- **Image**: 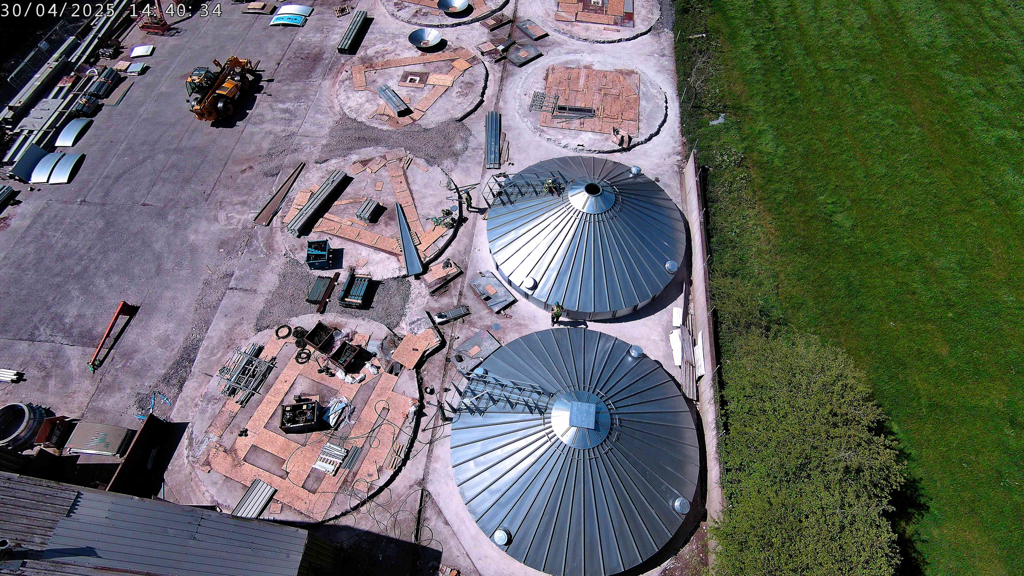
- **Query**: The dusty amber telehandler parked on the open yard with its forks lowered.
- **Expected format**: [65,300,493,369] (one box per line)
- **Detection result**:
[182,56,269,124]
